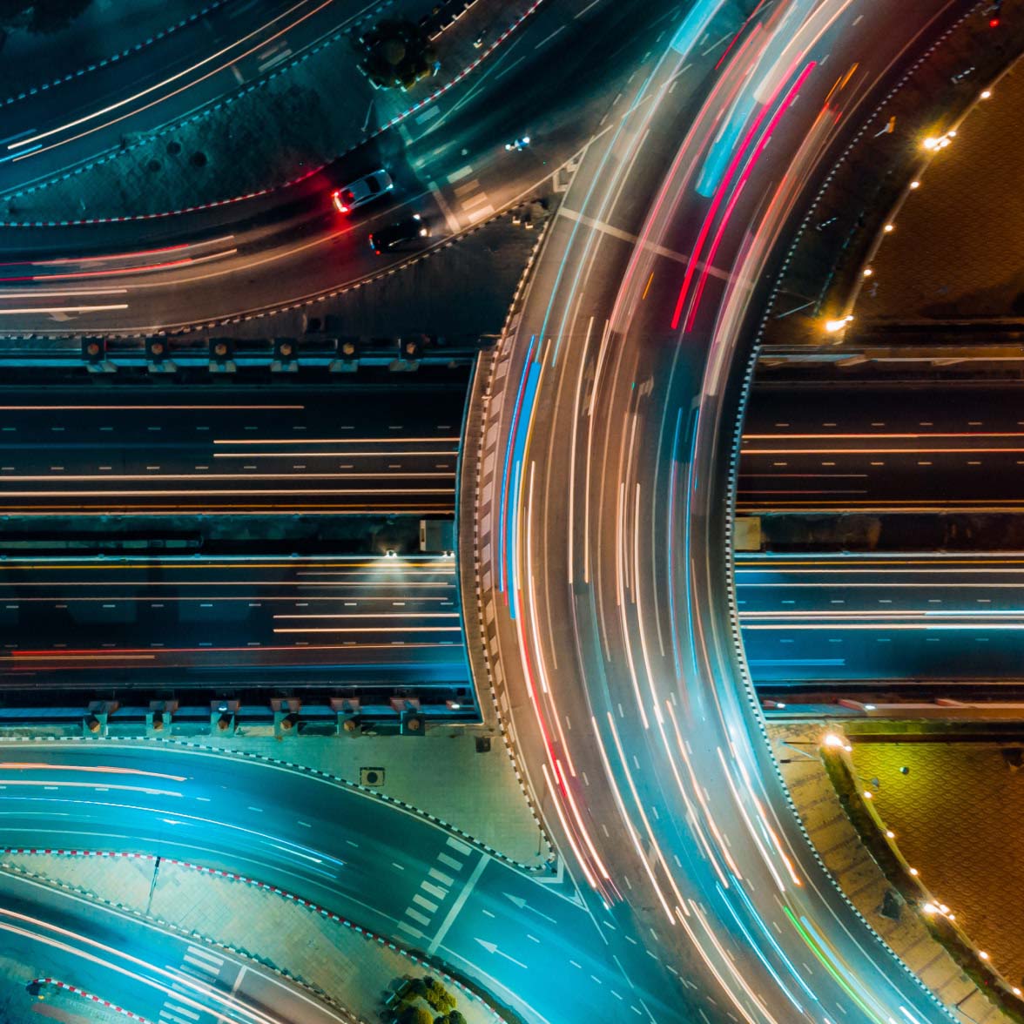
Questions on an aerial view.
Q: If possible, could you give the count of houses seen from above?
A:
0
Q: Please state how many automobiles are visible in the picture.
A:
2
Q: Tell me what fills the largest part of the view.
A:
paved ground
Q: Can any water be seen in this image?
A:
No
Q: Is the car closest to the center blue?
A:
No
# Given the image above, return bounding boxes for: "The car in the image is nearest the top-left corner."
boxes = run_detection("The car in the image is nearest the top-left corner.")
[328,166,393,210]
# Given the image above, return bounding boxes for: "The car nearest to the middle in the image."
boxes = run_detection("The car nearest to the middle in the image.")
[364,211,428,252]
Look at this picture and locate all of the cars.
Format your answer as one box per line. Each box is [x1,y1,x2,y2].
[328,166,393,210]
[364,211,428,252]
